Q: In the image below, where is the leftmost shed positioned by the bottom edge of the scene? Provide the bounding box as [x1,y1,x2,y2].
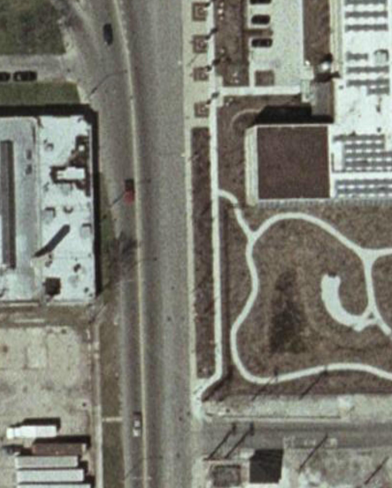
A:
[213,466,241,487]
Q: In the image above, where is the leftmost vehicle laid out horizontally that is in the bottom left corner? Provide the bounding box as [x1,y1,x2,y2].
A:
[1,444,30,457]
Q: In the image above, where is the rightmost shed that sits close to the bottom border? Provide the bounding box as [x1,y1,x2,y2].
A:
[246,458,279,485]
